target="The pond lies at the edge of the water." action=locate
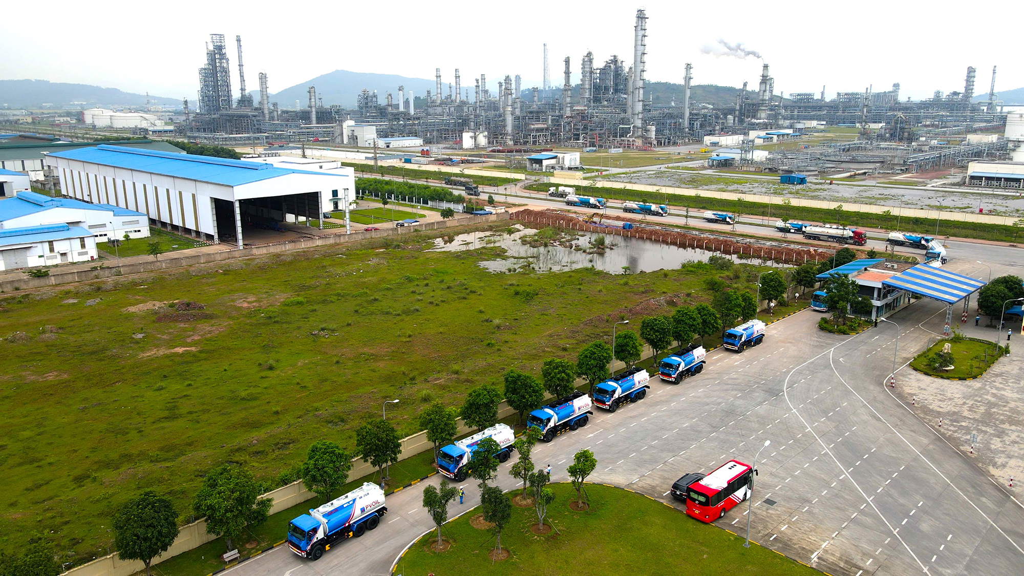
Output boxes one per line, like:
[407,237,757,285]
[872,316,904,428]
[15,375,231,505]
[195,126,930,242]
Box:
[425,223,794,274]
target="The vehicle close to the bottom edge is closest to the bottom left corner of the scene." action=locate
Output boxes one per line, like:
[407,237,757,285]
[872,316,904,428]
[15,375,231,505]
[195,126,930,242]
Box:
[280,483,394,562]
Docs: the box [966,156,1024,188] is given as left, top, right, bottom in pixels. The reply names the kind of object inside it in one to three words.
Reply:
building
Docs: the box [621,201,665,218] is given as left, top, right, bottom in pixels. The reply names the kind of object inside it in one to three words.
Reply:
vehicle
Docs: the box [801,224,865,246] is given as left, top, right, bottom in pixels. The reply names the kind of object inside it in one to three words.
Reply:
truck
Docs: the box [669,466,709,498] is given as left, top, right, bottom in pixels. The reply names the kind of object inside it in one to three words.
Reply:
car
